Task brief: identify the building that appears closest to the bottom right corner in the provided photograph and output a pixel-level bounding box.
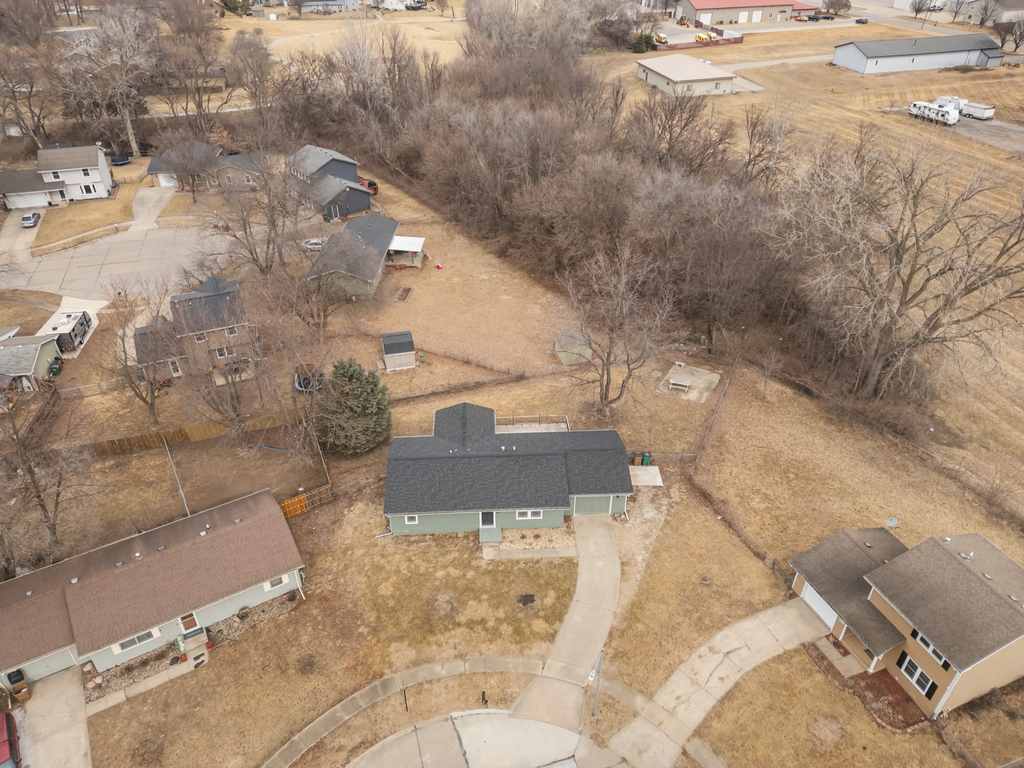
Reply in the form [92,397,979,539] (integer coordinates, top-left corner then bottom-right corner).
[786,519,1024,719]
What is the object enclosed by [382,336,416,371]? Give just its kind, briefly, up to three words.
shed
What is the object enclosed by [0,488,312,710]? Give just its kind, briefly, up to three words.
house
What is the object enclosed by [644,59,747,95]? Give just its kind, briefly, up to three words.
building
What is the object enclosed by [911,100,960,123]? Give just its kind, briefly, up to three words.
trailer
